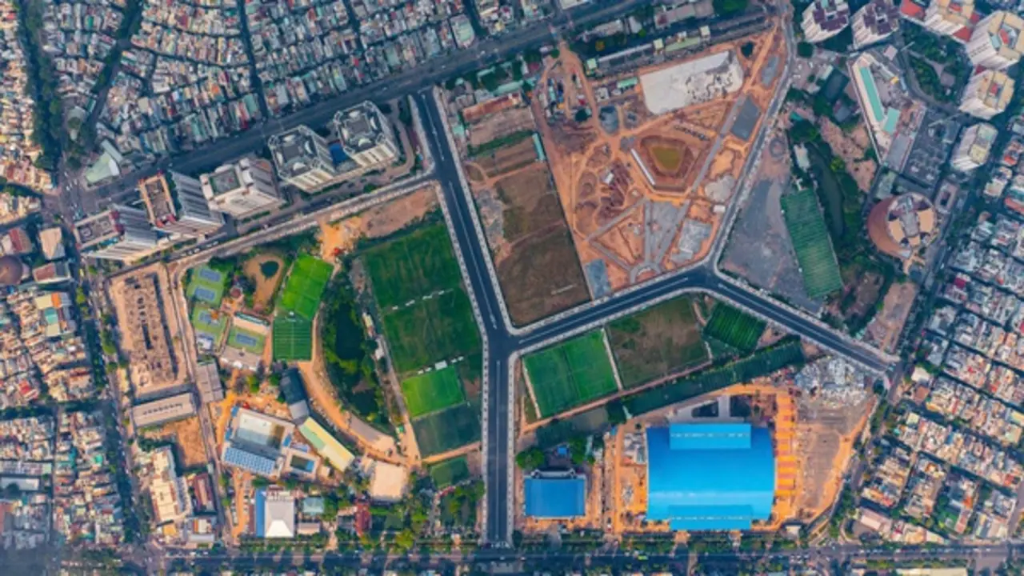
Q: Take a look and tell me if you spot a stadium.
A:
Yes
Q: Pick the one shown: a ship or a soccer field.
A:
soccer field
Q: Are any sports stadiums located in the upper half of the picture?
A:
No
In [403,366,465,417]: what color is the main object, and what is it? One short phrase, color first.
green soccer field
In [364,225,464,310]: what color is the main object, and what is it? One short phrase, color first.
green sports field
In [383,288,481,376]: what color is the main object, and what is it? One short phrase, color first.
green sports field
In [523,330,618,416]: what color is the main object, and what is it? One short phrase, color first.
green soccer field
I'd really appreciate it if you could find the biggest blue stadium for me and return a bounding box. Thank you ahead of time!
[646,421,777,532]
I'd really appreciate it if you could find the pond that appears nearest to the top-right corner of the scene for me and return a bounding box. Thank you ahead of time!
[634,134,702,190]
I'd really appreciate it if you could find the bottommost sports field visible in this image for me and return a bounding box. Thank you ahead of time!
[431,455,470,487]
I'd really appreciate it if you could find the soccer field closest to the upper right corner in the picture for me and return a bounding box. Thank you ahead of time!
[780,188,844,299]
